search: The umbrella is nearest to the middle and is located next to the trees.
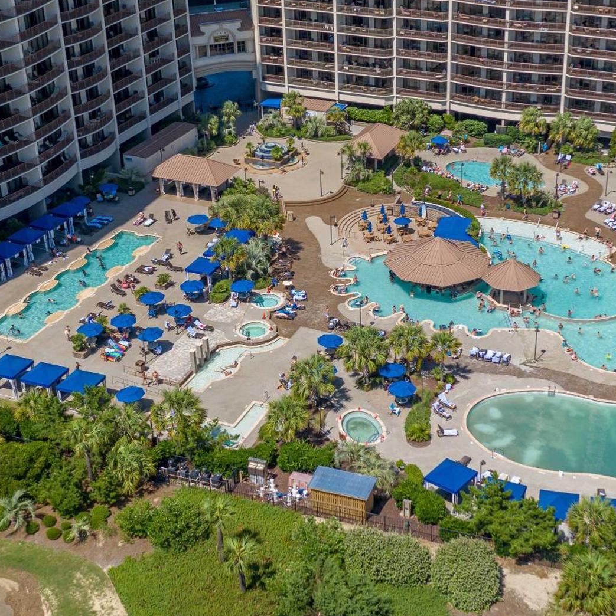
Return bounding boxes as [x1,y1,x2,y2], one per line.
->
[315,335,343,352]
